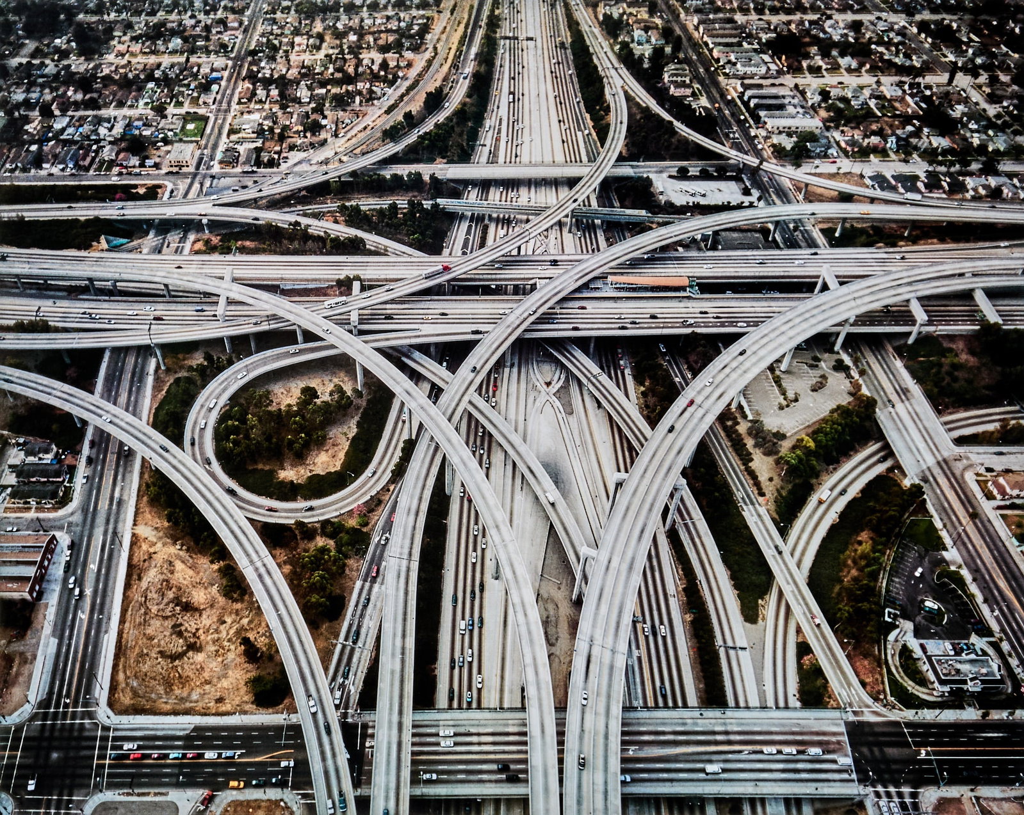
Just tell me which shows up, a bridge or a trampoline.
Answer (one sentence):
Visible in the photo is a bridge.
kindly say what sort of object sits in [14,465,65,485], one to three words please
house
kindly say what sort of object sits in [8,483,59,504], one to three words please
house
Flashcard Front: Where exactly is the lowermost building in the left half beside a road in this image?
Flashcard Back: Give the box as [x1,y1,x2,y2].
[0,526,54,602]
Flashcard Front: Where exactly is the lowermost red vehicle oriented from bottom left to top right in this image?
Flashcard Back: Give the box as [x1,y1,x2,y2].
[199,792,212,806]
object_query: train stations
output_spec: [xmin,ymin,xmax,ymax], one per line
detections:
[566,277,701,296]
